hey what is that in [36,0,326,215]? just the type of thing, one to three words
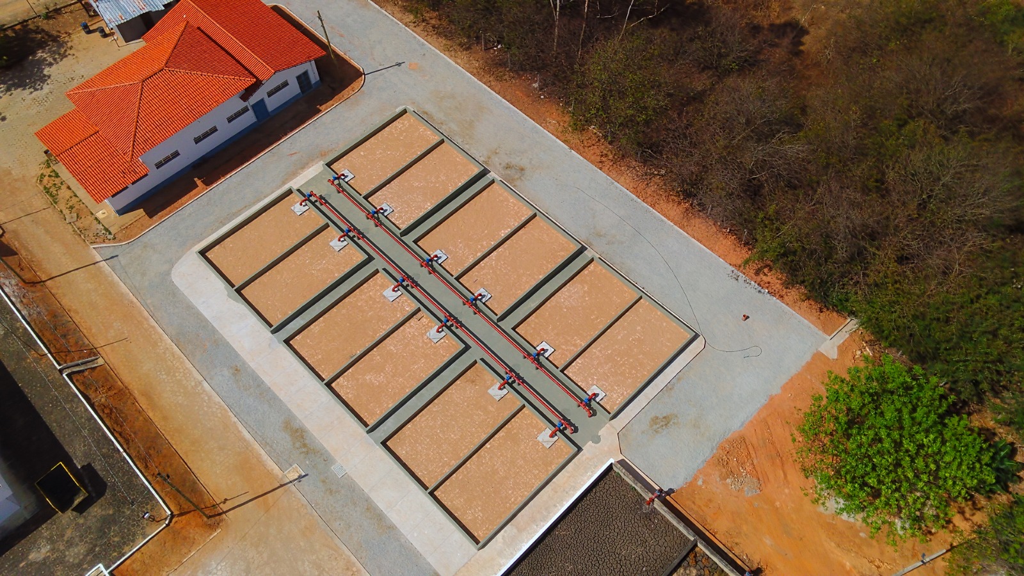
building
